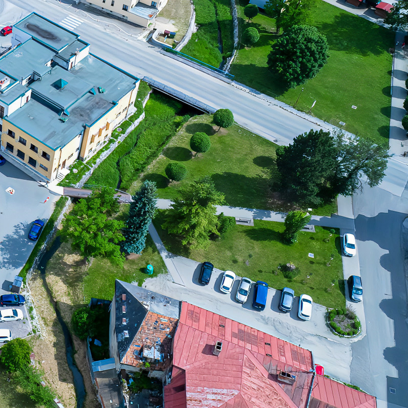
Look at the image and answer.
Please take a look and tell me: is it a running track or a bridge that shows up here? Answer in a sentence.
Looking from above, you can make out a bridge.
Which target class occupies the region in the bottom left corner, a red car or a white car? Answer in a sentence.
You can see a white car in the bottom left corner.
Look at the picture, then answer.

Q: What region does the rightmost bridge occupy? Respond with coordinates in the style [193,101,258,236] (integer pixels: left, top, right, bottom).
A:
[142,36,236,113]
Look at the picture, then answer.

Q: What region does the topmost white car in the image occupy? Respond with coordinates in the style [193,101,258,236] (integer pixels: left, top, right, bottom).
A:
[341,233,358,259]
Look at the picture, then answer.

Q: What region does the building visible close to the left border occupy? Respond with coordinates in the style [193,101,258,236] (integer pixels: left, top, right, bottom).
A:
[0,10,140,183]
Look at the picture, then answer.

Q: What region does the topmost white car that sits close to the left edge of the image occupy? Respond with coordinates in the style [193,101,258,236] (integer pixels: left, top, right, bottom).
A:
[0,308,25,324]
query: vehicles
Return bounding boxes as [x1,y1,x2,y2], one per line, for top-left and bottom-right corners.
[252,280,272,312]
[198,259,214,287]
[28,217,45,243]
[346,274,366,303]
[218,268,237,296]
[0,154,8,165]
[235,276,252,304]
[341,233,358,259]
[279,286,295,313]
[0,293,27,309]
[0,328,13,343]
[0,25,13,36]
[0,308,25,324]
